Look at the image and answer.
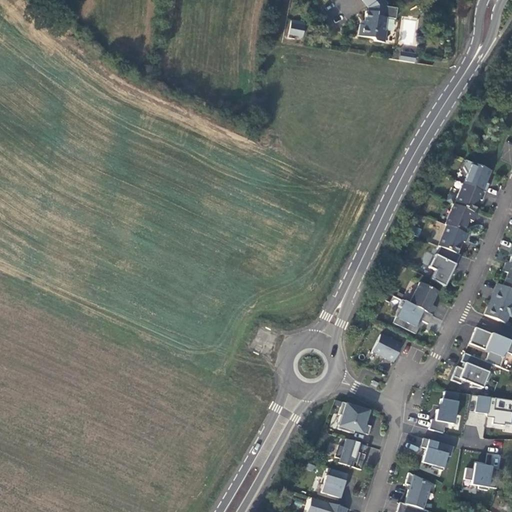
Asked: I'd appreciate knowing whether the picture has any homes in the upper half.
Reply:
Yes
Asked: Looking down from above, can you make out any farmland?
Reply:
Yes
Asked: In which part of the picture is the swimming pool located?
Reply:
top right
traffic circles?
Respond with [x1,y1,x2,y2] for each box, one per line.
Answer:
[270,300,352,420]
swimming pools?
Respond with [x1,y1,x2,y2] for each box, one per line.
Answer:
[400,17,419,46]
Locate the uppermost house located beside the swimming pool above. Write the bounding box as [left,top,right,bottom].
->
[356,0,398,45]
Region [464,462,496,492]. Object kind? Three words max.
house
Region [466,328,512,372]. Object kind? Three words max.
house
